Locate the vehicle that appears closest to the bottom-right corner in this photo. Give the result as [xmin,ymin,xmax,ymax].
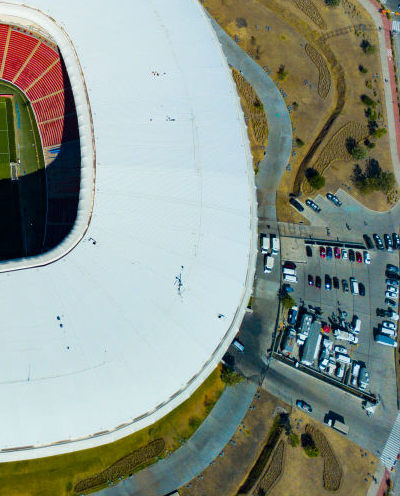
[325,417,351,433]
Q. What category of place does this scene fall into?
sports ground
